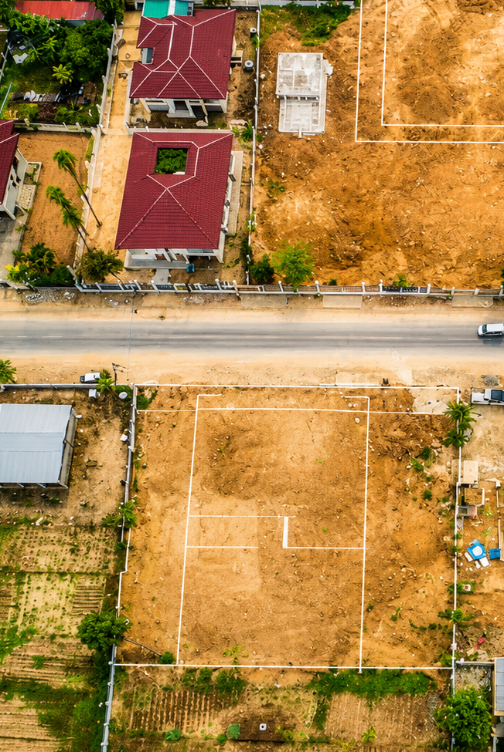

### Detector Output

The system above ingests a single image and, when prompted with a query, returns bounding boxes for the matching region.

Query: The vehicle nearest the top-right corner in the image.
[477,324,504,338]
